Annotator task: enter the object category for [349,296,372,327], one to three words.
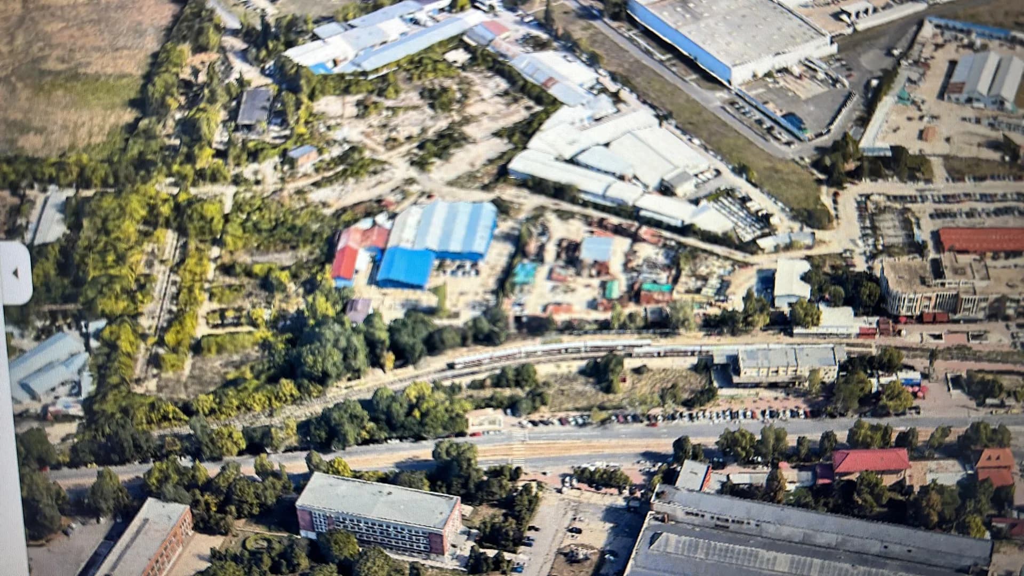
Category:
building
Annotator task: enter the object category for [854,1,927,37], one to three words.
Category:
shed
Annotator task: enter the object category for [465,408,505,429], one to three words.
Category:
building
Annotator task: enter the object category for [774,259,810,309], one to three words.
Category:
house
